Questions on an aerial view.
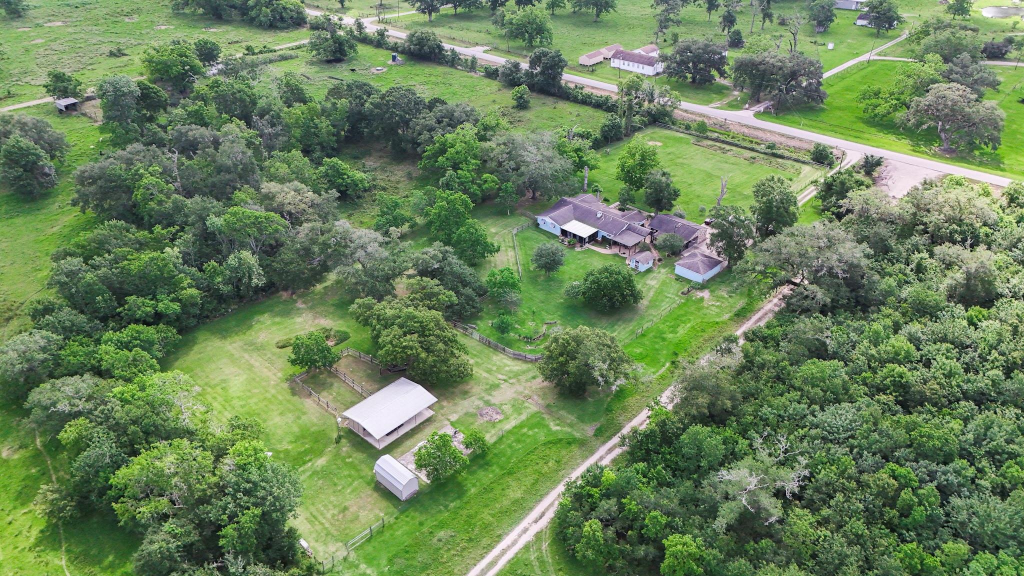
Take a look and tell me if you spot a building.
Yes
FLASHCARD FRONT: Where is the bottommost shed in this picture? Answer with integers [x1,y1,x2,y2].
[373,456,419,502]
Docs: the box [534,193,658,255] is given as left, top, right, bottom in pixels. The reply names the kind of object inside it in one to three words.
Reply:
house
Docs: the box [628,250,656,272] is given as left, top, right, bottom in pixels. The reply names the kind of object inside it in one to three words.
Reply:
shed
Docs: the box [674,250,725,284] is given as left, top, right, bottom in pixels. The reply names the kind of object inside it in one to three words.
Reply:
building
